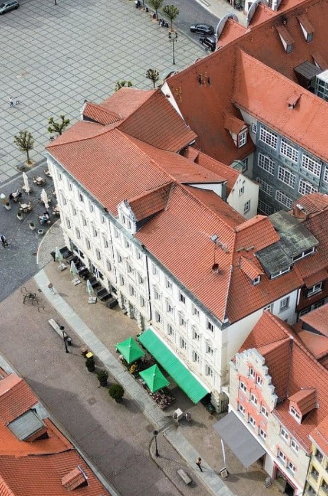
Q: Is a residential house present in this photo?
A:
Yes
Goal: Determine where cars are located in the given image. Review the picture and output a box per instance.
[189,23,216,35]
[0,0,20,12]
[199,36,217,52]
